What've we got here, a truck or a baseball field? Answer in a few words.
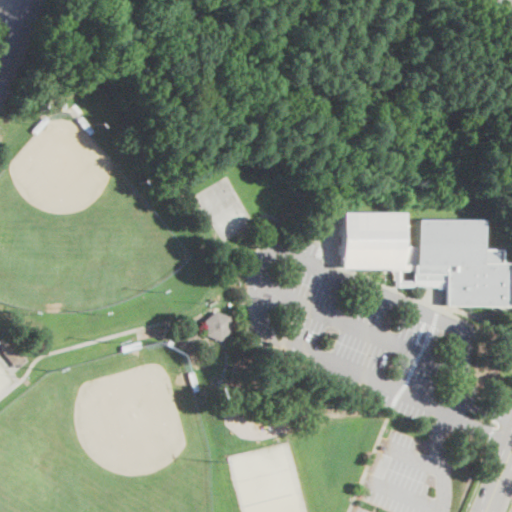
baseball field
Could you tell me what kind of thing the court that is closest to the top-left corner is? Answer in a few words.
basketball court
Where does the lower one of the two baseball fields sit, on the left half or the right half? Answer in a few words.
left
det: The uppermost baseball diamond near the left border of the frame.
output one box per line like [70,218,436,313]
[0,114,190,313]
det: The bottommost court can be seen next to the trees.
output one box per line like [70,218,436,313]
[228,442,306,512]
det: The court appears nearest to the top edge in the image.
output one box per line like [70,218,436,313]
[196,177,251,242]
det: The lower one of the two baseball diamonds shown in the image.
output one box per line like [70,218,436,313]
[0,346,210,512]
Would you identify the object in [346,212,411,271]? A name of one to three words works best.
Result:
building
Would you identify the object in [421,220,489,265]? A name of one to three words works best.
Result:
building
